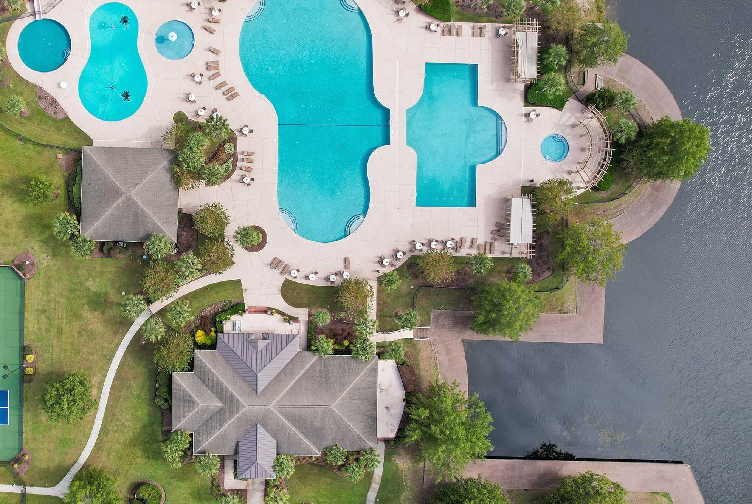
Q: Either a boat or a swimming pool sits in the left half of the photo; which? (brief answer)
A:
swimming pool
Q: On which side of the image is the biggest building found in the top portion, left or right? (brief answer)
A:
left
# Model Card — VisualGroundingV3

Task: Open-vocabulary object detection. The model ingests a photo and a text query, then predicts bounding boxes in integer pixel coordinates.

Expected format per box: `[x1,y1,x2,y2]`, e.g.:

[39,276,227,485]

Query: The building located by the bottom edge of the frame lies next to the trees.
[171,333,378,479]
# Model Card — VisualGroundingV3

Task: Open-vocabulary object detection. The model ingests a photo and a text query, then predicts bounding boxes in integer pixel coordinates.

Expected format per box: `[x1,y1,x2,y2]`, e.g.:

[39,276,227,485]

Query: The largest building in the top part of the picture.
[81,146,179,243]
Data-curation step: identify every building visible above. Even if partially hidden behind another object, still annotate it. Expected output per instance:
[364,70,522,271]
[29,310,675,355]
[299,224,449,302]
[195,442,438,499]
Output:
[81,146,179,243]
[171,333,378,479]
